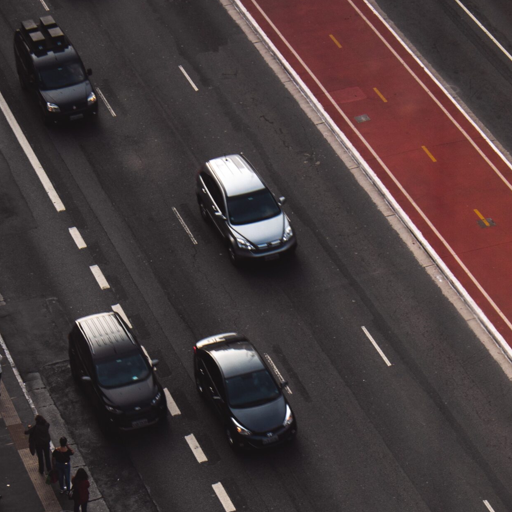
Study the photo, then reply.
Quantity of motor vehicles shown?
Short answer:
three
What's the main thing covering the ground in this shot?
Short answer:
paved ground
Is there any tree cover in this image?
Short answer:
No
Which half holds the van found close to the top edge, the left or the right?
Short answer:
left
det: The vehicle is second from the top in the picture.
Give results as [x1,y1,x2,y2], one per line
[195,151,294,264]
